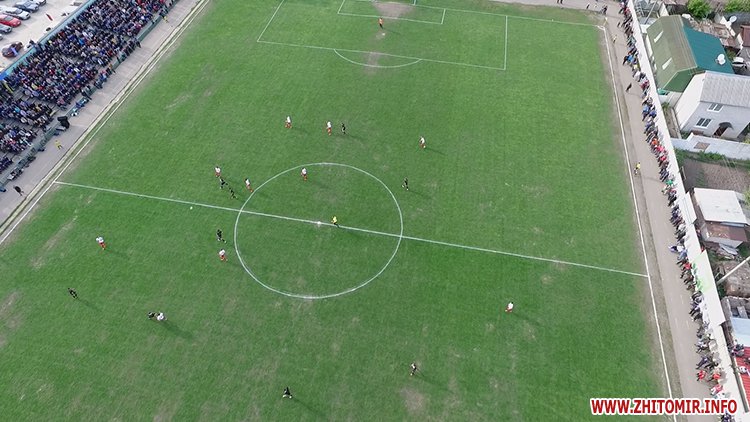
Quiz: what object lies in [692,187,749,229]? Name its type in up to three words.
shed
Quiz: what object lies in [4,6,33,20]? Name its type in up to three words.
vehicle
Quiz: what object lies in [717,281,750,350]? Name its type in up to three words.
shed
